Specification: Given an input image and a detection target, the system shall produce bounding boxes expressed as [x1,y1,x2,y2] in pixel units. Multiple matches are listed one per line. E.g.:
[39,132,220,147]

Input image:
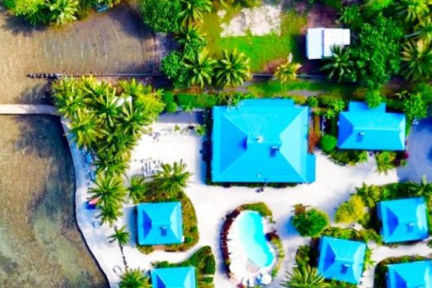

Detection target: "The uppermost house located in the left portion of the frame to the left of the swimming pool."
[134,203,182,245]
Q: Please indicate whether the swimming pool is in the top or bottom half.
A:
bottom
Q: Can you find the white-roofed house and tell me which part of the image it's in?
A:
top right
